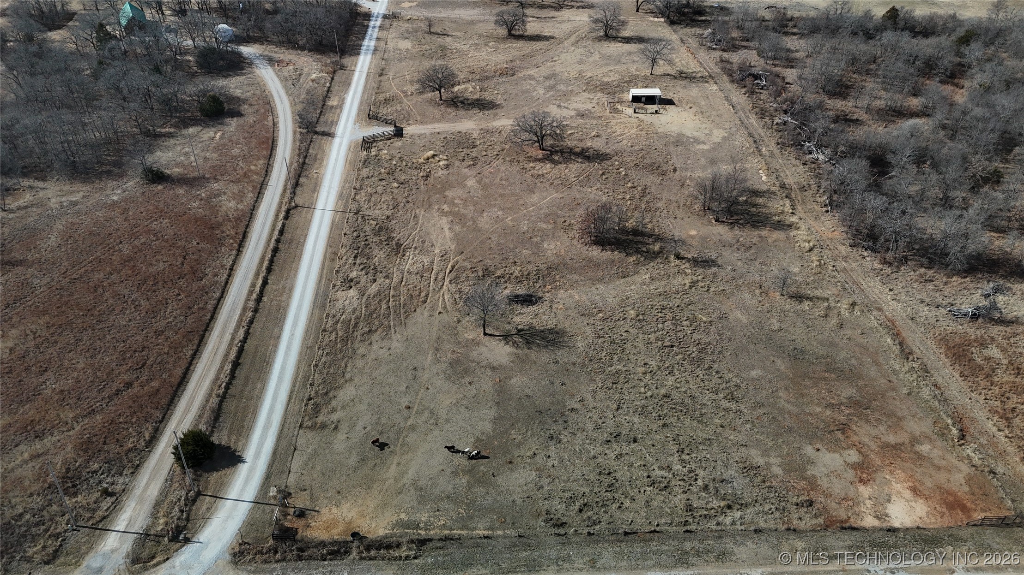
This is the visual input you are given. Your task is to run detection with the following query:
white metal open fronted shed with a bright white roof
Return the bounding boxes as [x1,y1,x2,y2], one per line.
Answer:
[629,84,664,102]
